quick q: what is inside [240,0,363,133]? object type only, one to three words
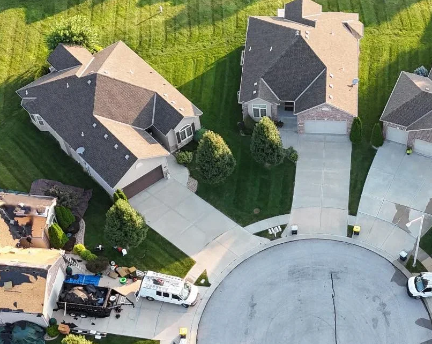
house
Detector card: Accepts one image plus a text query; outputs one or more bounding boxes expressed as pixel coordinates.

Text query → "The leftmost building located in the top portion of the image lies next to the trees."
[21,40,204,199]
